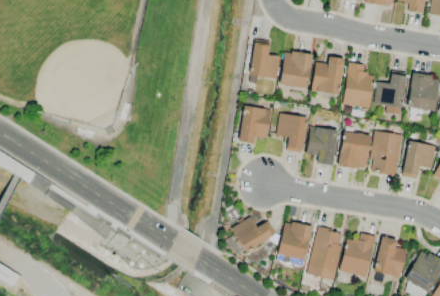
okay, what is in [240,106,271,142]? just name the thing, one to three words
house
